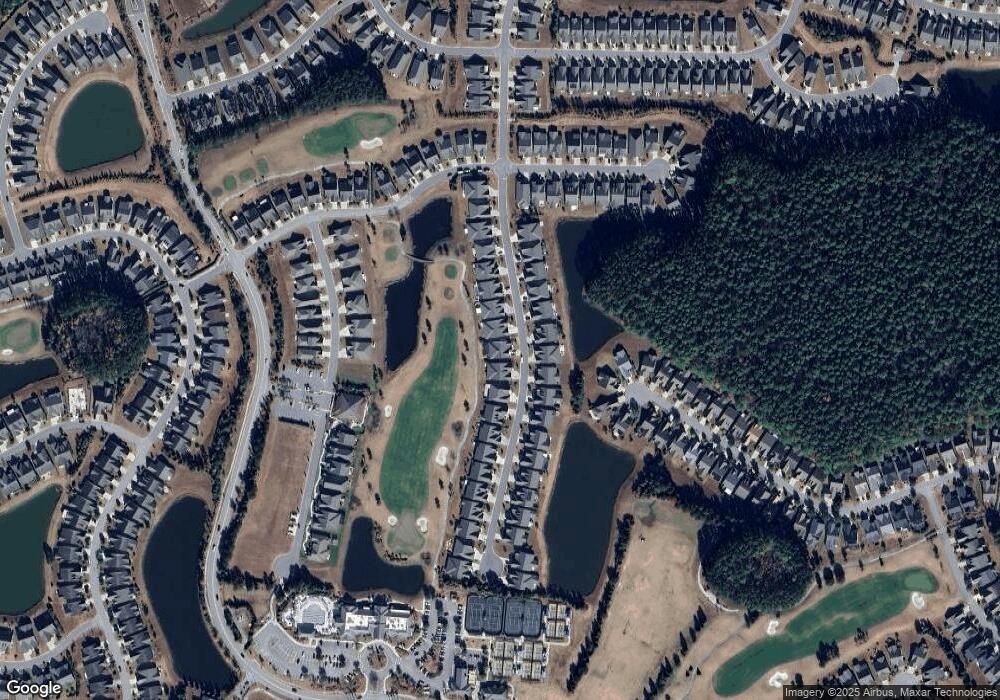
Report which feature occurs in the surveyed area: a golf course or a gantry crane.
golf course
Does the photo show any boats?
No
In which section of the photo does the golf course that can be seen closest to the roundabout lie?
center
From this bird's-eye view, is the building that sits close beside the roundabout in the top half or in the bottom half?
bottom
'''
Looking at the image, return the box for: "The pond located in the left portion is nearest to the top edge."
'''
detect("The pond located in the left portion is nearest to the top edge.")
[185,0,270,37]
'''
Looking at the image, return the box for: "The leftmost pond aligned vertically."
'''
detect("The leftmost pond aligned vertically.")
[0,486,61,615]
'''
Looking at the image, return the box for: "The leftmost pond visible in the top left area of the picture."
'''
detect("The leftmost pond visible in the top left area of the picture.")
[57,80,145,172]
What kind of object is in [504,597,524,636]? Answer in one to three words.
tennis court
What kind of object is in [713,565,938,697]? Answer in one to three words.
golf course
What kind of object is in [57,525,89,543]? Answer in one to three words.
house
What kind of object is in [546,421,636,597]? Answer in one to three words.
pond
